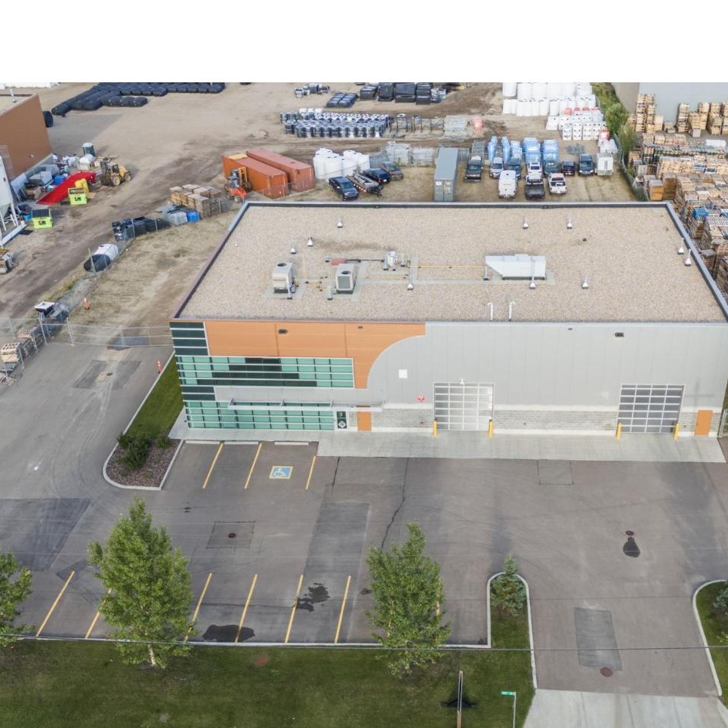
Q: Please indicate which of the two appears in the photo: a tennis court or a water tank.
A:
water tank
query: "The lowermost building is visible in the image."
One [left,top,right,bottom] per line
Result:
[168,202,728,437]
